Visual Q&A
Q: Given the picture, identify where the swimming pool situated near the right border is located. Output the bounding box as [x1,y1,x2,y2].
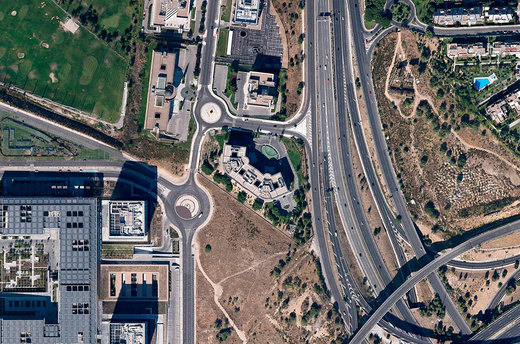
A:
[474,73,498,90]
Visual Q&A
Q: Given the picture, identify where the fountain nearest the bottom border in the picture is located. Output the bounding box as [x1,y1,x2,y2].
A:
[261,144,279,159]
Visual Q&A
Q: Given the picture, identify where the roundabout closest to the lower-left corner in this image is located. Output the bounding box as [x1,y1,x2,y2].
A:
[164,183,211,229]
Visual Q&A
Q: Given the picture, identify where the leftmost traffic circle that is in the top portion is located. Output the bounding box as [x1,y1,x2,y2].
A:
[192,93,231,132]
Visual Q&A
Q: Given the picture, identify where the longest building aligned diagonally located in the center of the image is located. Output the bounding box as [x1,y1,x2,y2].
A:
[221,142,288,199]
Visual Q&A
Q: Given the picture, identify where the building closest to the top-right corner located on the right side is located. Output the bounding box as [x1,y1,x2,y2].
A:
[486,7,514,24]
